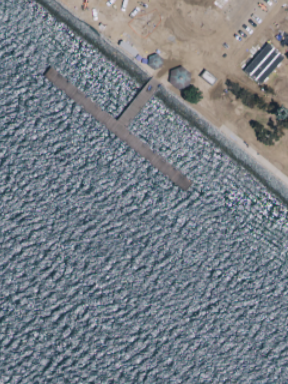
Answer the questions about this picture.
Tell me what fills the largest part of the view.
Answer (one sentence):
The scene is dominated by water.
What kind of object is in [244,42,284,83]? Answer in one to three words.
building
